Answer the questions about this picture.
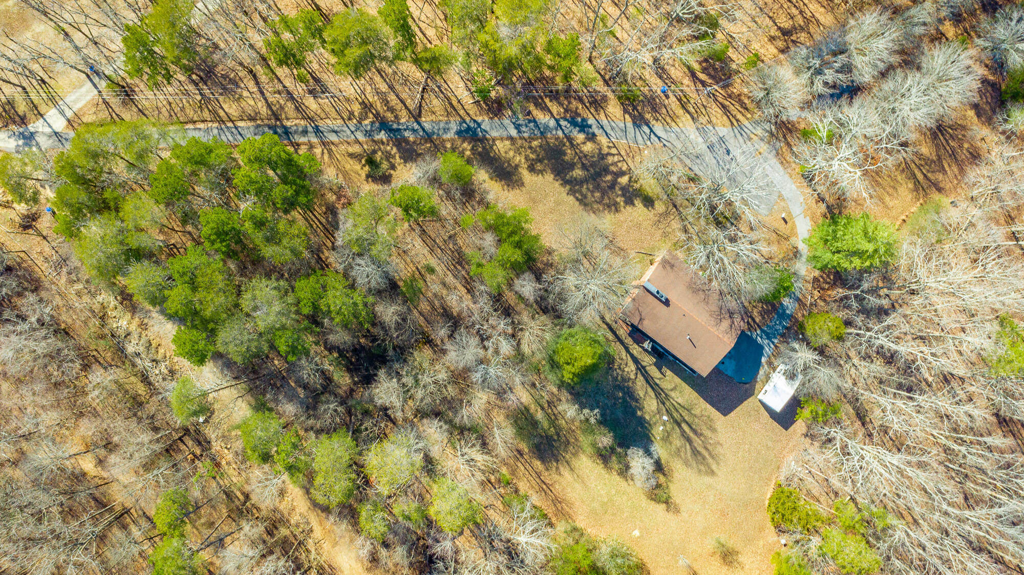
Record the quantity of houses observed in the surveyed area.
one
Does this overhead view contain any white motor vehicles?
Yes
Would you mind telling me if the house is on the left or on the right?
right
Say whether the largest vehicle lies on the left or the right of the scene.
right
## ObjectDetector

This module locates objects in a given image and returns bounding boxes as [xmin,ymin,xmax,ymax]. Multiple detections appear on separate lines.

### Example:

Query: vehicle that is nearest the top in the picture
[754,363,801,412]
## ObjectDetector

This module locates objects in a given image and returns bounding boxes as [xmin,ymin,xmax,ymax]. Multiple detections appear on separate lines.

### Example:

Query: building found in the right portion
[618,250,751,377]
